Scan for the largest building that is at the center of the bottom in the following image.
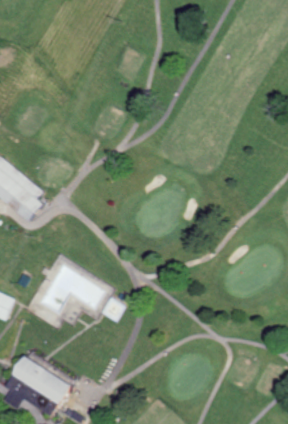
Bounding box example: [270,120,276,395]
[102,297,126,322]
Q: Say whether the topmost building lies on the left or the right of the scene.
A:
left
